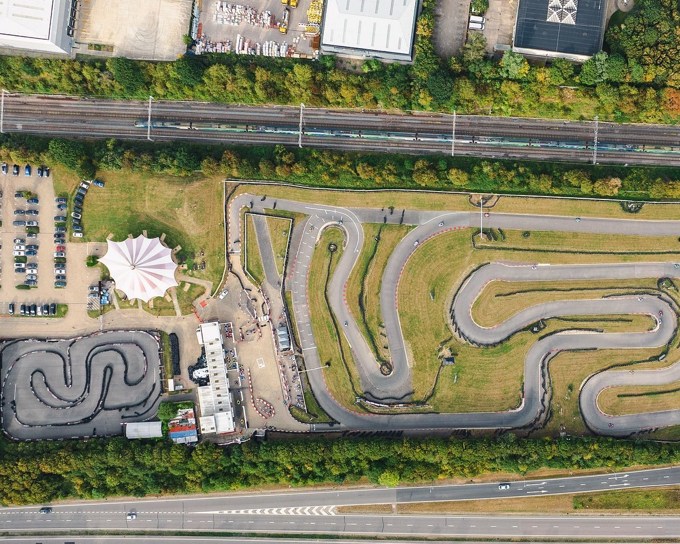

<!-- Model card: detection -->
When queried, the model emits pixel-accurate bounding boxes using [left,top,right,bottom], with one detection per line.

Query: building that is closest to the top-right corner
[513,0,606,59]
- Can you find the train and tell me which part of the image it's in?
top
